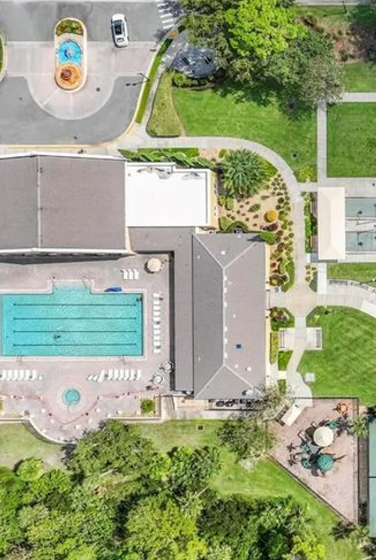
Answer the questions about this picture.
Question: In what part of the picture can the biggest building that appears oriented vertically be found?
right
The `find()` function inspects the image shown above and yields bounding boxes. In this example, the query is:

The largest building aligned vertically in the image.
[319,188,347,260]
